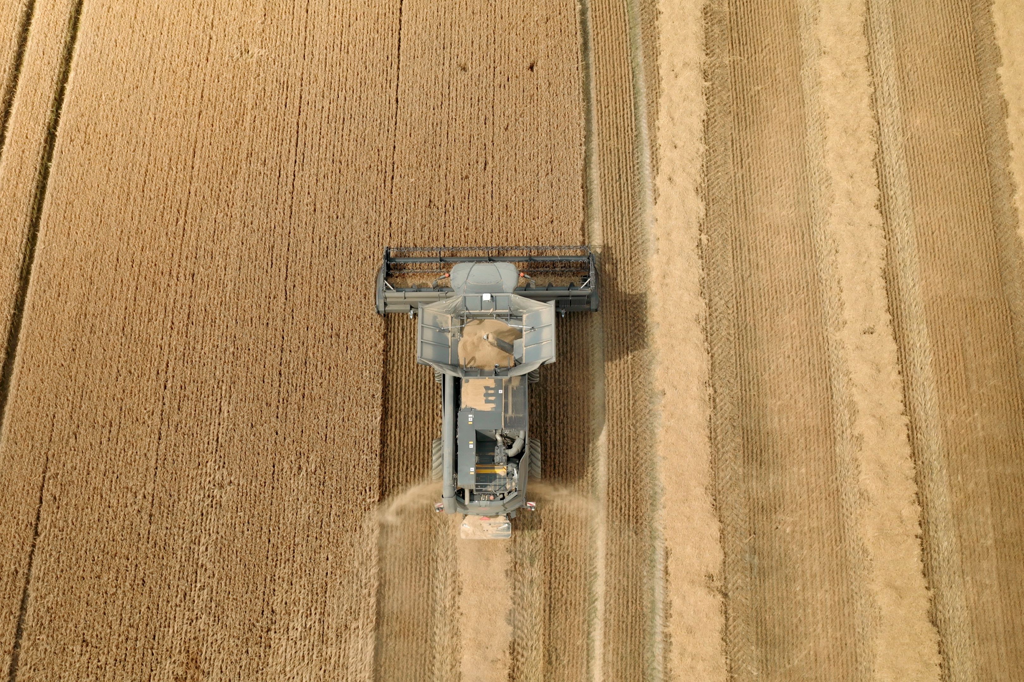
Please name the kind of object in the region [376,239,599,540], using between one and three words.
work vehicle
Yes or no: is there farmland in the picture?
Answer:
Yes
